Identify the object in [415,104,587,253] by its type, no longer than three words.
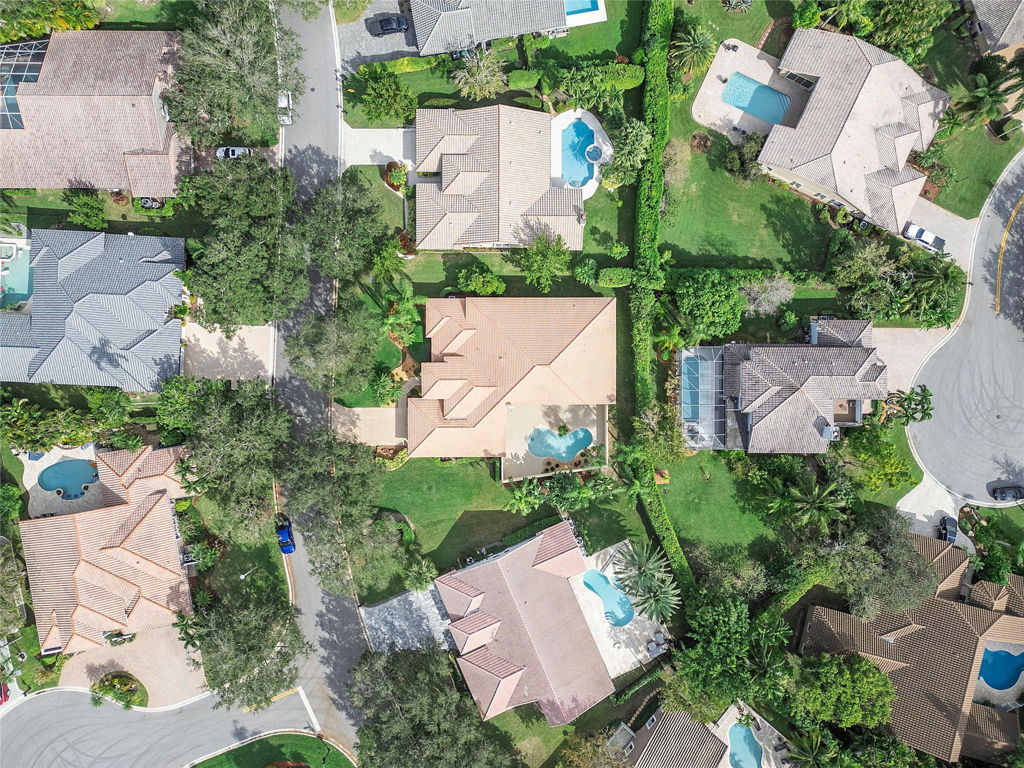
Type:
house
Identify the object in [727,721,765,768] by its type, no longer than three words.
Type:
swimming pool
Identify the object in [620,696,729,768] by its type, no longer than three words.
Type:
house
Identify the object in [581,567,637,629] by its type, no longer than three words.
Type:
swimming pool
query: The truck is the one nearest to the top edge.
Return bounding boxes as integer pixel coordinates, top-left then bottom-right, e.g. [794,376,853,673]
[365,16,411,40]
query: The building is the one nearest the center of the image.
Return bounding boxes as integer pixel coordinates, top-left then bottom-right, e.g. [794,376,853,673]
[407,297,617,458]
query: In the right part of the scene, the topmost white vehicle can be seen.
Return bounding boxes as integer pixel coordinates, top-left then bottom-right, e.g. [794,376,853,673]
[901,223,948,256]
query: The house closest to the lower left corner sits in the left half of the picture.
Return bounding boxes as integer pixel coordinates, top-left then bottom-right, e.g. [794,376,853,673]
[19,445,200,655]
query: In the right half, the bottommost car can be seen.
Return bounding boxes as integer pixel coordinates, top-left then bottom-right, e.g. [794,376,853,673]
[935,511,959,546]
